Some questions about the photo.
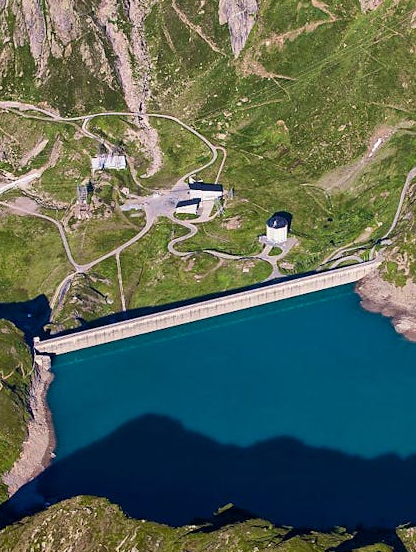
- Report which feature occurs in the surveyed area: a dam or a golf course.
dam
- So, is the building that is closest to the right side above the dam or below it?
above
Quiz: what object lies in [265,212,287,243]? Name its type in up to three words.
building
